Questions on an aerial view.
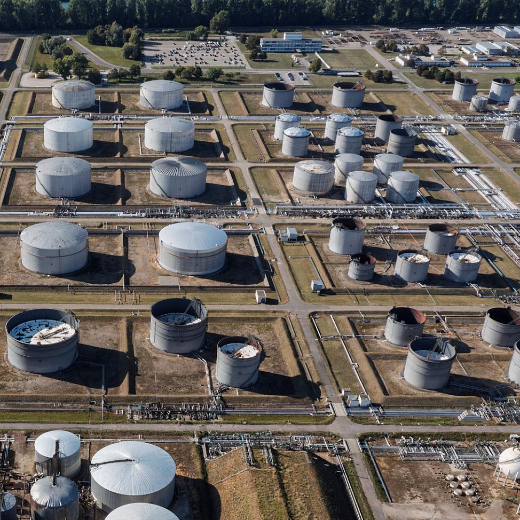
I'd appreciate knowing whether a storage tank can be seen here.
Yes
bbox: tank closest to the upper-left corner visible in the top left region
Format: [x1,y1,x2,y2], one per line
[51,80,96,109]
